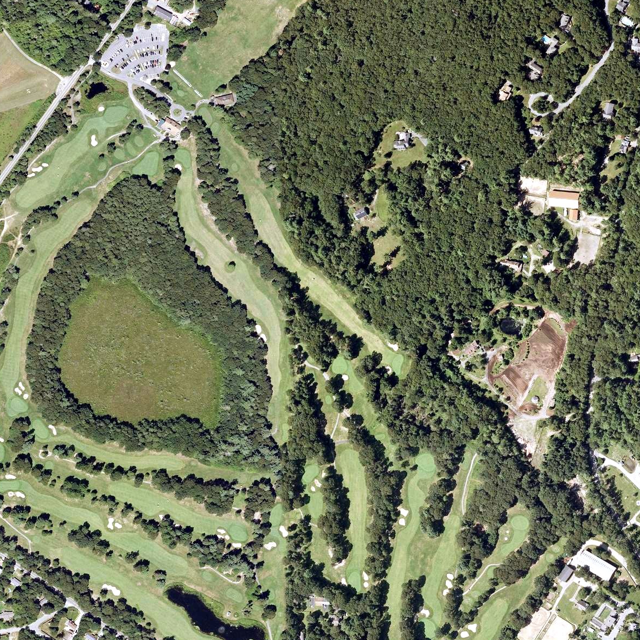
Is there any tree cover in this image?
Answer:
Yes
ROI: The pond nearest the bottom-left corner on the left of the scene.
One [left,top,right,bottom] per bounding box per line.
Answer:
[167,586,266,640]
